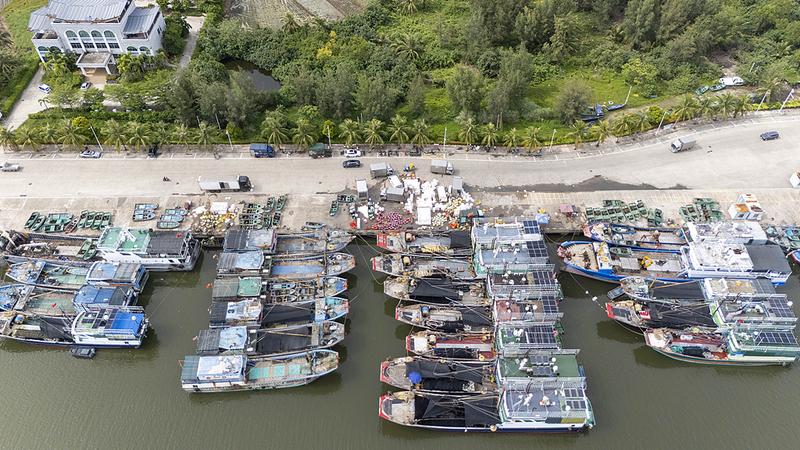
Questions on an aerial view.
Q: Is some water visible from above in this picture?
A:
Yes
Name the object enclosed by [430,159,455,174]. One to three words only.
vehicle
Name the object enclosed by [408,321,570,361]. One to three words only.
boat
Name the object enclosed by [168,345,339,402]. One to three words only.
boat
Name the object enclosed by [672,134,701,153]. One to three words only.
vehicle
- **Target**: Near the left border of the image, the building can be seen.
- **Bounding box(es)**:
[26,0,175,77]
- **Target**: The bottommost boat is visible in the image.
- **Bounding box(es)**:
[379,377,608,436]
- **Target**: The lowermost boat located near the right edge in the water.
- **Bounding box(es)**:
[643,320,800,370]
